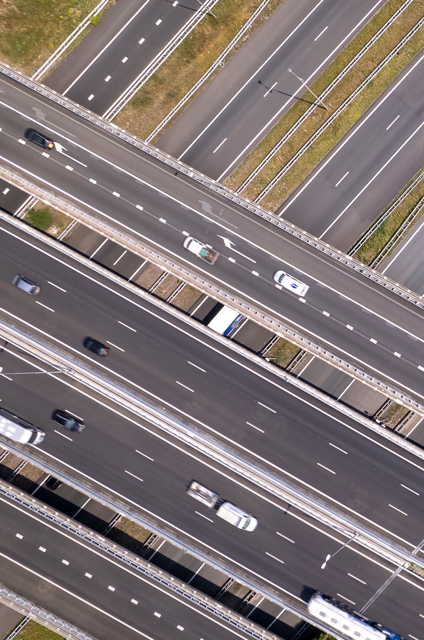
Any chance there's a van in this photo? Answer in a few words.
Yes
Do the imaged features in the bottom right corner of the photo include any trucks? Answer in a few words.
Yes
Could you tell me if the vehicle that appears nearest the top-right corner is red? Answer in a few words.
No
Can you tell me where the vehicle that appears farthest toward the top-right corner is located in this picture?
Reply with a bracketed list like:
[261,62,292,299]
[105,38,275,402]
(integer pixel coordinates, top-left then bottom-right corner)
[277,271,313,298]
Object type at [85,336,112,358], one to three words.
car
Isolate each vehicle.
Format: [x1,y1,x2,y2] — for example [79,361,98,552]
[47,479,65,493]
[311,591,408,640]
[186,239,224,267]
[0,406,55,446]
[207,307,244,338]
[25,128,57,152]
[85,336,112,358]
[219,500,260,529]
[277,271,313,298]
[14,274,42,296]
